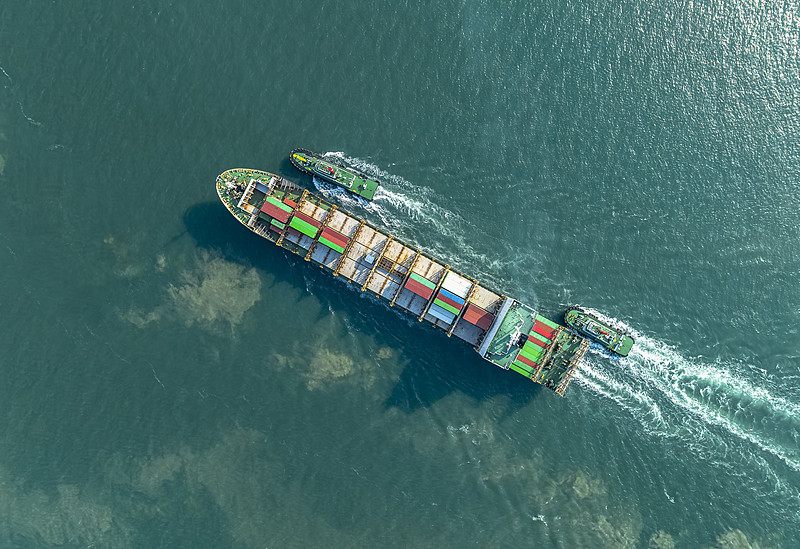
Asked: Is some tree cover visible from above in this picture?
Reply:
No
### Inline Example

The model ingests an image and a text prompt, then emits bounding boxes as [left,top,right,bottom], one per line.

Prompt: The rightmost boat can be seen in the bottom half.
[565,309,634,356]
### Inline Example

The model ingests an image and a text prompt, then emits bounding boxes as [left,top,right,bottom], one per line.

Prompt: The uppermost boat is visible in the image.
[289,149,380,201]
